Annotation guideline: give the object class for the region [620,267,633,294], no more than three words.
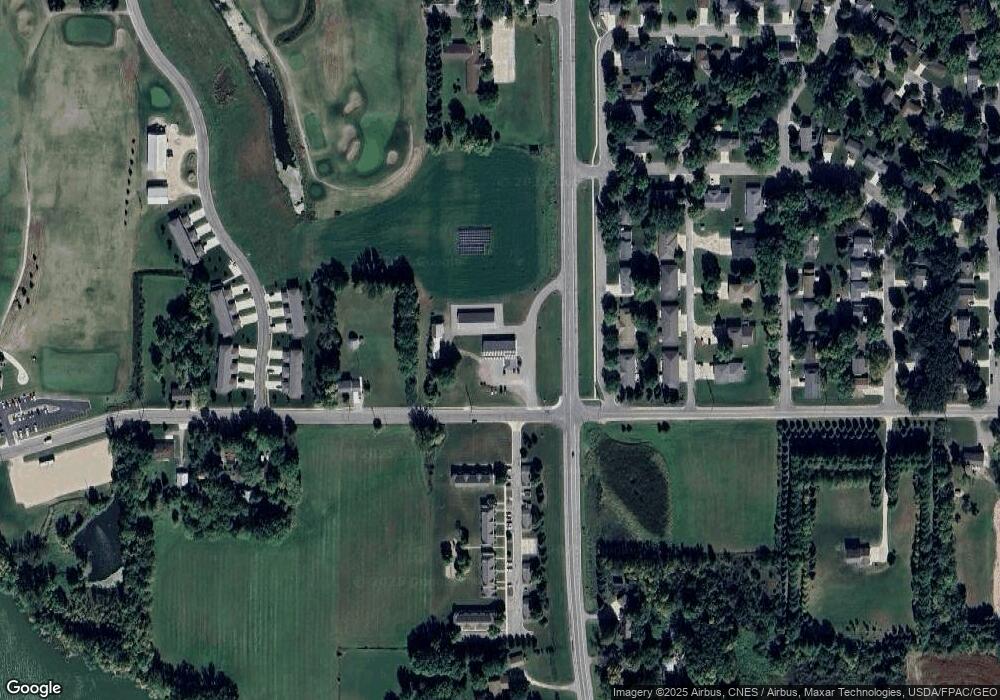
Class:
house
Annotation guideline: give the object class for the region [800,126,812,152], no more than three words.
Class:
house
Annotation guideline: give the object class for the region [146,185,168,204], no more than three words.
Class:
barn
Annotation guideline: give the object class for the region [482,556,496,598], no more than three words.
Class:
building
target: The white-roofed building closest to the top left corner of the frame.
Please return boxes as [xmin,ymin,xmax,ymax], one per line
[147,132,167,172]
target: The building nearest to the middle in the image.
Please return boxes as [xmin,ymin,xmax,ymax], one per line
[482,338,515,350]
